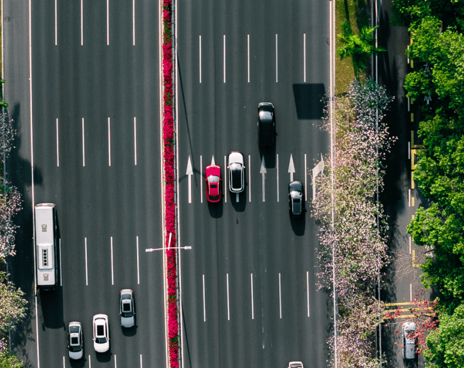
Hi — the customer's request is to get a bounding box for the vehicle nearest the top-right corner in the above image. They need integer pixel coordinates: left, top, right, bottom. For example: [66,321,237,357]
[257,102,275,145]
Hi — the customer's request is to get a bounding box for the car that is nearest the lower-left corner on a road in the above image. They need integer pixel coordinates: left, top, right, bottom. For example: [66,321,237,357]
[67,319,85,360]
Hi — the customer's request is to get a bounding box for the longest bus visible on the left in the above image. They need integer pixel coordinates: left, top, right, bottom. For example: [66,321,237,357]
[33,199,58,291]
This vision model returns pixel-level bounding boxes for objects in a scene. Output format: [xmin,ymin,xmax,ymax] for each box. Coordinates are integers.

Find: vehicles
[205,164,222,203]
[92,313,110,352]
[286,360,305,368]
[33,199,58,291]
[67,319,85,360]
[287,180,303,217]
[257,102,275,145]
[401,319,419,360]
[118,288,136,327]
[226,151,245,192]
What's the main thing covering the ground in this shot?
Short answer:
paved ground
